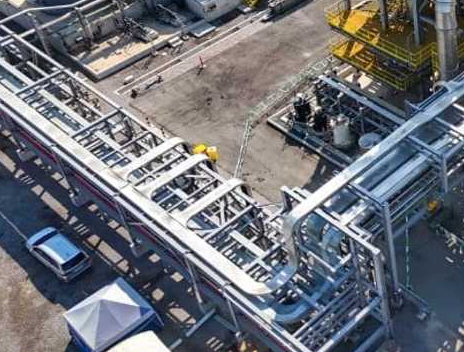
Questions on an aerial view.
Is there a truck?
No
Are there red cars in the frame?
No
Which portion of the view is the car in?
bottom left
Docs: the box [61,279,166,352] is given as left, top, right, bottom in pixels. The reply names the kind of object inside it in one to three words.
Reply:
tent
